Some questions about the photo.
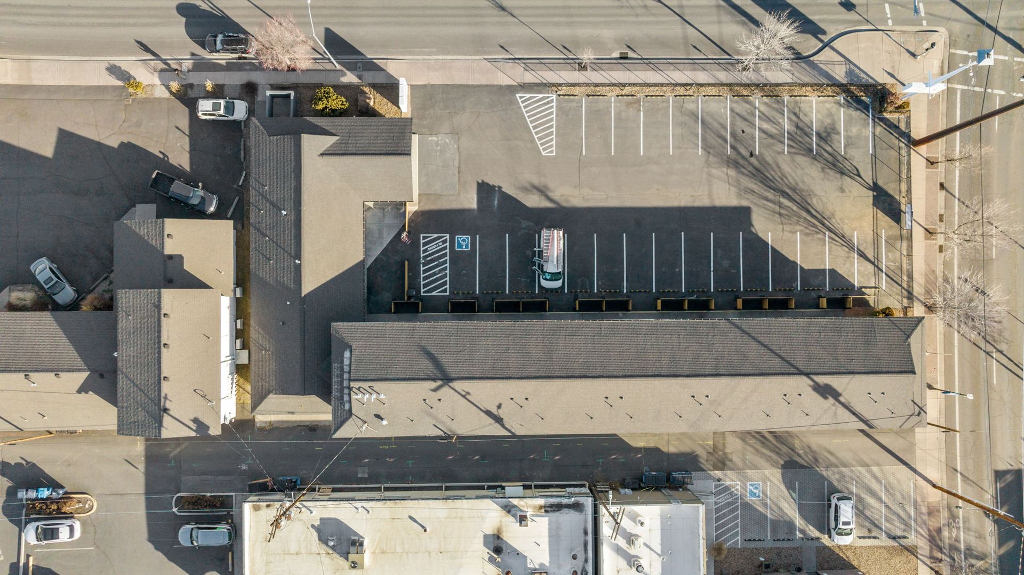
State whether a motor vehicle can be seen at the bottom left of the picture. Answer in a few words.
Yes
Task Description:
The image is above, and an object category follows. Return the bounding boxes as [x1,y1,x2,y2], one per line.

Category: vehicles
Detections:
[180,523,233,548]
[830,493,856,543]
[27,520,81,545]
[197,97,249,121]
[149,169,218,213]
[32,257,75,306]
[531,229,565,288]
[205,30,257,56]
